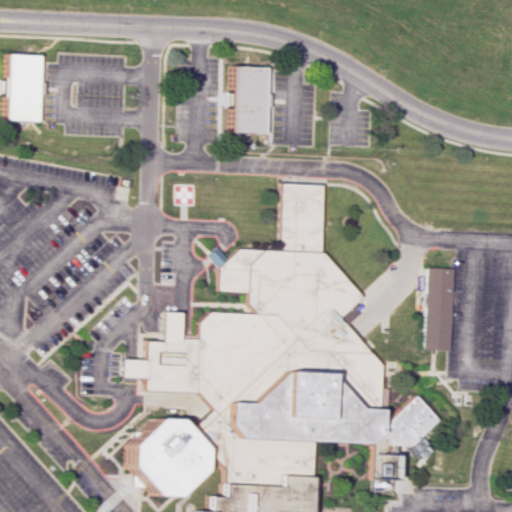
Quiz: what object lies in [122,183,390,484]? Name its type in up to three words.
building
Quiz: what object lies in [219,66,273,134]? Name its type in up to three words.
building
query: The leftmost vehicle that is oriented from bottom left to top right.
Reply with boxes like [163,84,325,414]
[346,304,362,320]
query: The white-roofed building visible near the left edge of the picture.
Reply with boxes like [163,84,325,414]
[0,54,47,123]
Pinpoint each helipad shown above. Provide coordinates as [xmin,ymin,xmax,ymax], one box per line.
[172,184,196,207]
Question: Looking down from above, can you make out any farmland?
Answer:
No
